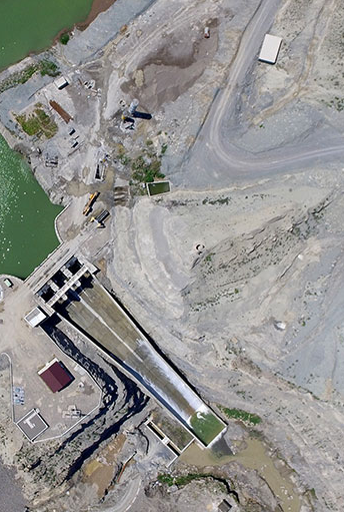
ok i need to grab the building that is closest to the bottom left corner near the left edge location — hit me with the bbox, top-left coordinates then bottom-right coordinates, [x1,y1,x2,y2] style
[17,406,48,441]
